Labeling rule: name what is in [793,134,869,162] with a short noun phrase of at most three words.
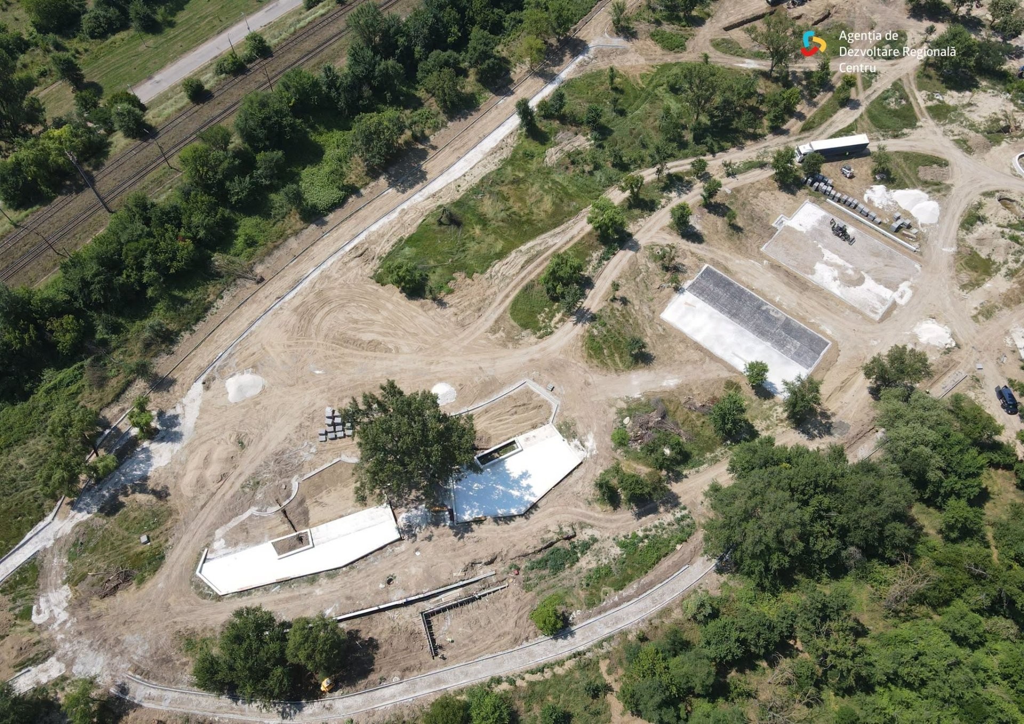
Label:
truck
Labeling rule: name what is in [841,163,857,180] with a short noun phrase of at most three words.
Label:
work vehicle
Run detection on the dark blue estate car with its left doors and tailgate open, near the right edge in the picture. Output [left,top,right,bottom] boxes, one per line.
[997,380,1019,413]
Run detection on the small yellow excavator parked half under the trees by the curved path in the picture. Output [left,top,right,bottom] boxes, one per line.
[315,672,341,694]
